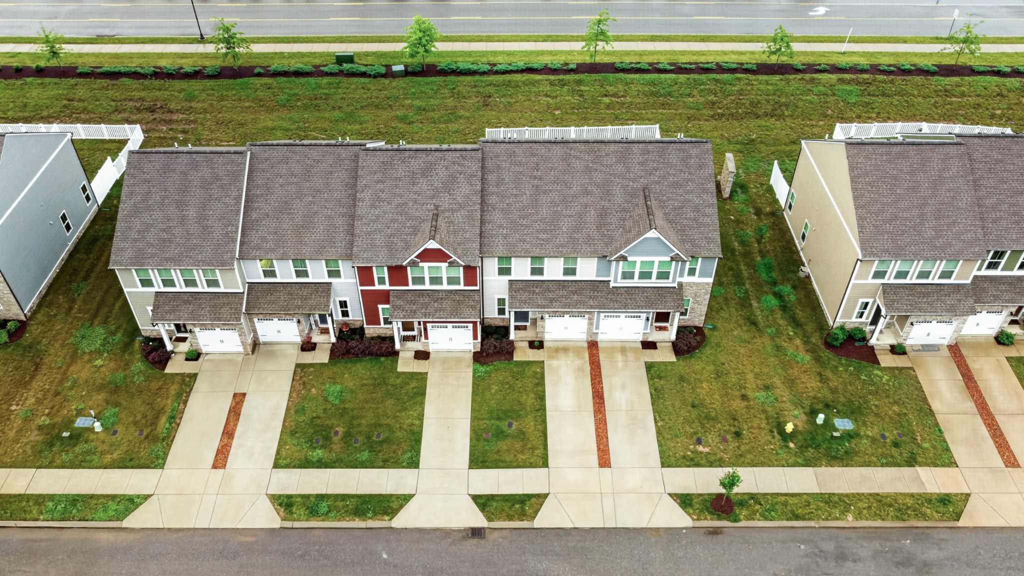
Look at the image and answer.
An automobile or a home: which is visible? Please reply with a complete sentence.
There is a home in the scene.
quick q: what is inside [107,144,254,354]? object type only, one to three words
house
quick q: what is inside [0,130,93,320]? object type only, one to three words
house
